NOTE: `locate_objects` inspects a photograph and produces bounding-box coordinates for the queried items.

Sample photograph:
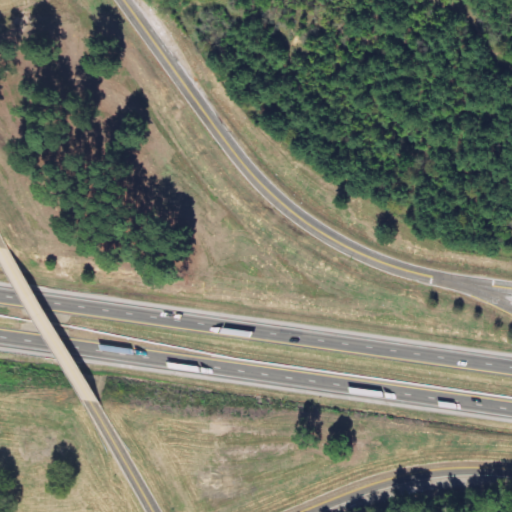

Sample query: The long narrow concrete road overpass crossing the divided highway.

[0,240,100,410]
